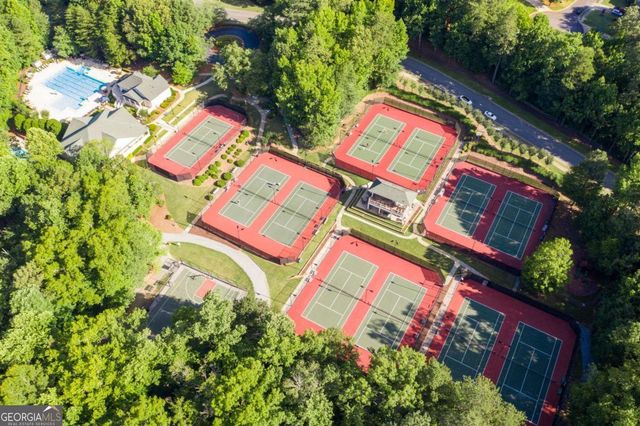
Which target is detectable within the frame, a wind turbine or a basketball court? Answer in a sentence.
It is a basketball court that can be seen here.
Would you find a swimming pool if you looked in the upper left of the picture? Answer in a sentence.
Yes, the scene does show a swimming pool in the upper left of the picture.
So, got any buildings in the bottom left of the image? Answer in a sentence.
No, the scene shows no building in the bottom left of the image.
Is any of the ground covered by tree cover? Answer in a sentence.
Yes, some tree cover is visible.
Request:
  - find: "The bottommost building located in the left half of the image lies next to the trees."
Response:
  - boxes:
[46,103,152,158]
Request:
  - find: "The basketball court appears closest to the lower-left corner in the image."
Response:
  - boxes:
[136,265,242,359]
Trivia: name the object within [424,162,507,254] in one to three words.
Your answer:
tennis court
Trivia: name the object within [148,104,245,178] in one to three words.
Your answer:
tennis court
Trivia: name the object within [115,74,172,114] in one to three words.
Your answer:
building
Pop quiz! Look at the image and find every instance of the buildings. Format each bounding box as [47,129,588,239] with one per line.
[115,74,172,114]
[364,172,424,225]
[46,103,152,158]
